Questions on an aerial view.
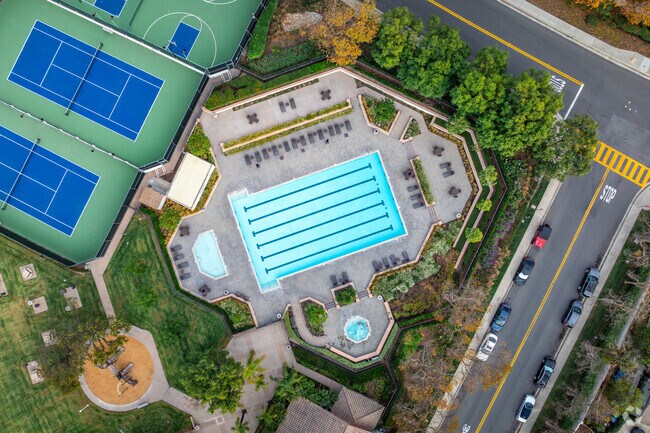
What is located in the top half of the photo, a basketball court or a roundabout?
basketball court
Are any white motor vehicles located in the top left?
No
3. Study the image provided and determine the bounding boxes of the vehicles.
[560,298,583,328]
[514,392,536,423]
[477,331,499,361]
[533,356,555,387]
[489,302,512,332]
[529,224,552,251]
[576,267,600,298]
[512,256,534,286]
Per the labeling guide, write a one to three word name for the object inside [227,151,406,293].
swimming pool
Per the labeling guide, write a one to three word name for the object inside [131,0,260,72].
basketball court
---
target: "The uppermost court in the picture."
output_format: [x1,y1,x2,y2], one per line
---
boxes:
[58,0,145,32]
